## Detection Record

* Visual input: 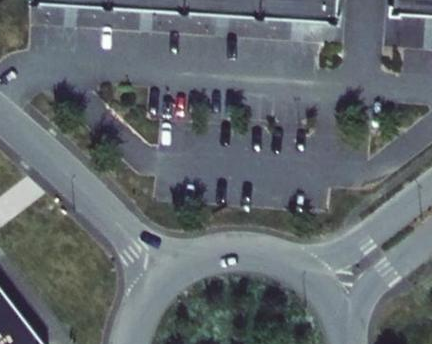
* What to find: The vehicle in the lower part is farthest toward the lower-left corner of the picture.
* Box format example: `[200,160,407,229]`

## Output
[138,231,162,248]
